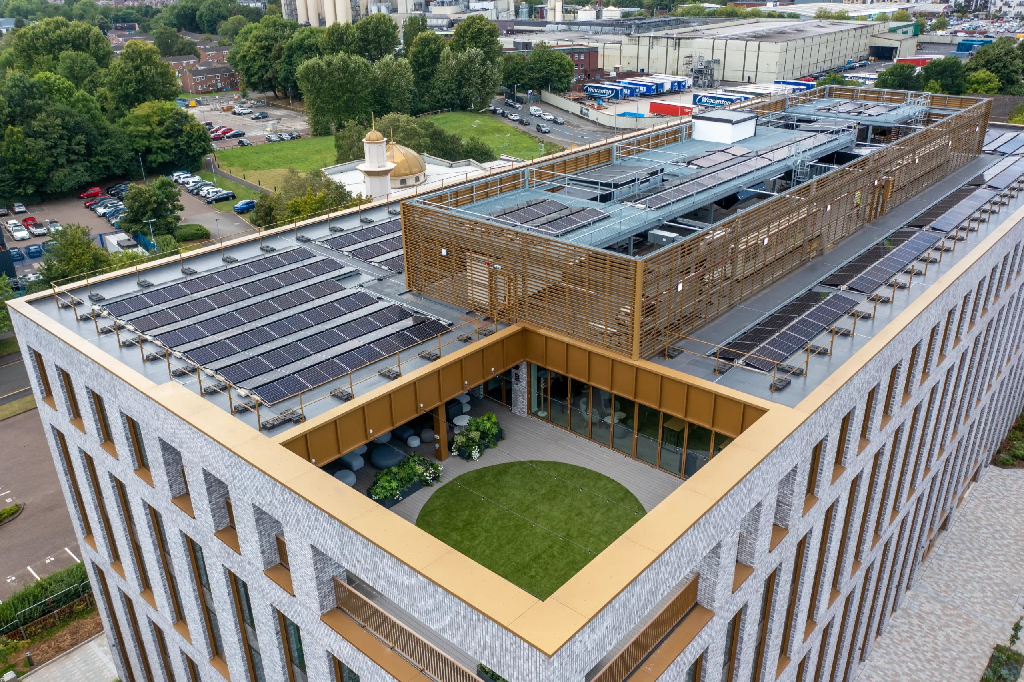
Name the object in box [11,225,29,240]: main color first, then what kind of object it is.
white car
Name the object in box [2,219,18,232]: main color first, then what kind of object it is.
white vehicle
